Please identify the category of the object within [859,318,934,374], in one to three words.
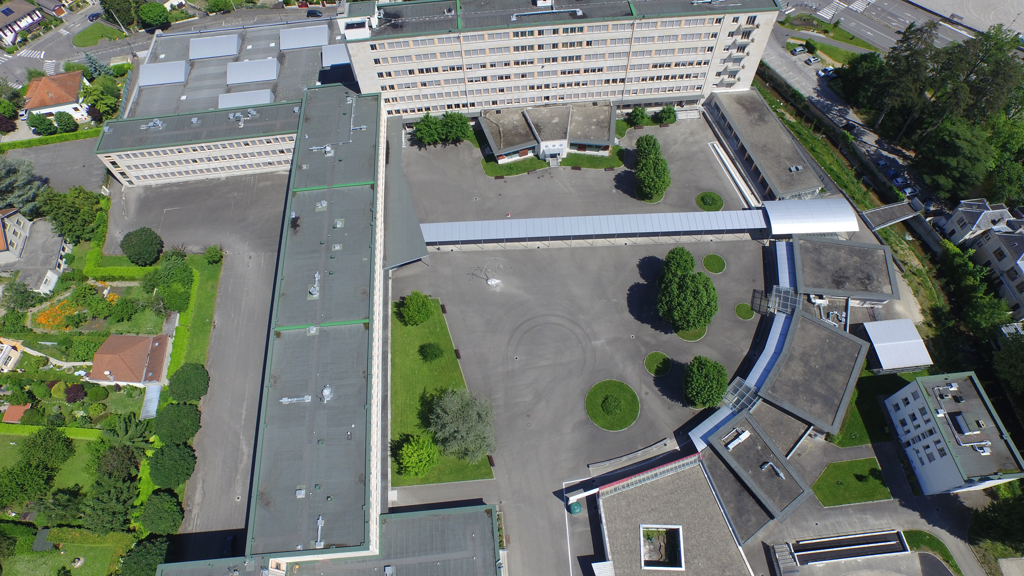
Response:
shed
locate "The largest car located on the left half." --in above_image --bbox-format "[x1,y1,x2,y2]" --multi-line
[221,532,236,560]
